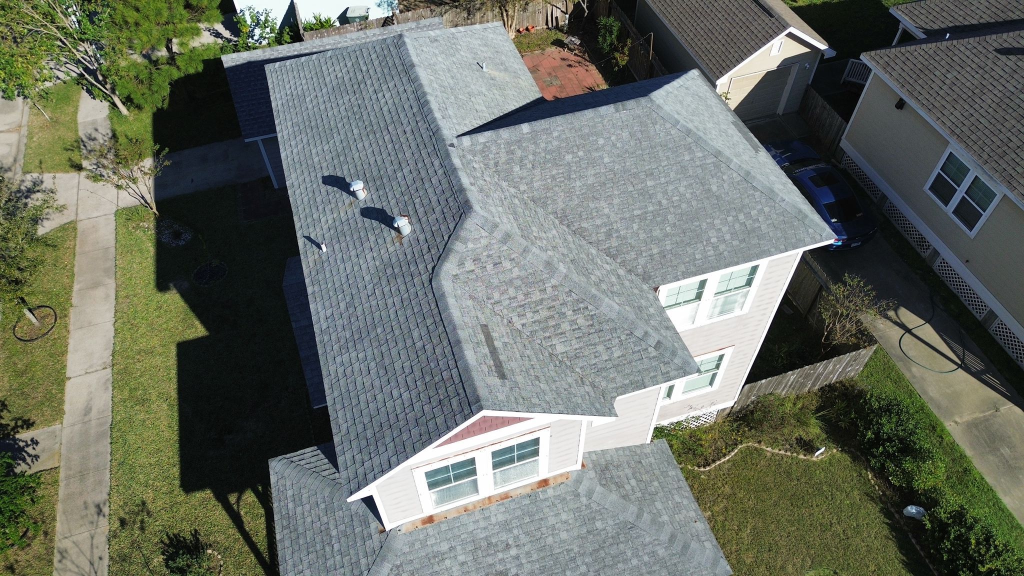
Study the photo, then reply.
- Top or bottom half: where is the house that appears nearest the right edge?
top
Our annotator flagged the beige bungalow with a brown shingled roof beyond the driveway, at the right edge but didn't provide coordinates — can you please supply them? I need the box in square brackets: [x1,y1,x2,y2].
[836,0,1024,368]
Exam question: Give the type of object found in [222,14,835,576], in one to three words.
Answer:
house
